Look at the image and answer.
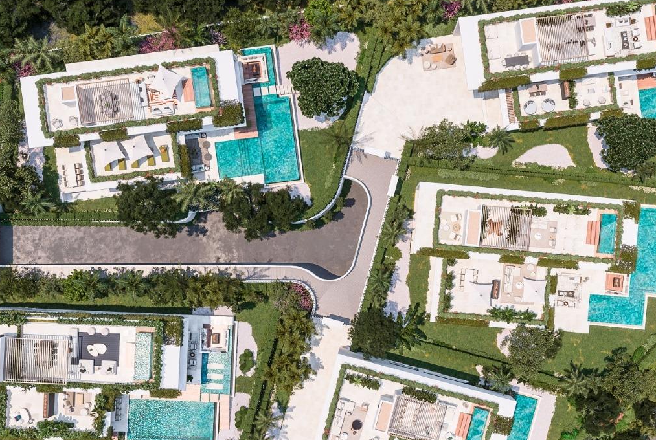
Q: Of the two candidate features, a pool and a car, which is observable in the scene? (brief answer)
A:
pool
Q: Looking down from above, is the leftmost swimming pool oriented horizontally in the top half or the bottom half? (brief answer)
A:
bottom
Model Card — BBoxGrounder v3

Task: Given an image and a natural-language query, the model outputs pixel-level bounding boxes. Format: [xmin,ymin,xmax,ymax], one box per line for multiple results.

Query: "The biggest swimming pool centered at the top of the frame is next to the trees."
[215,43,305,188]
